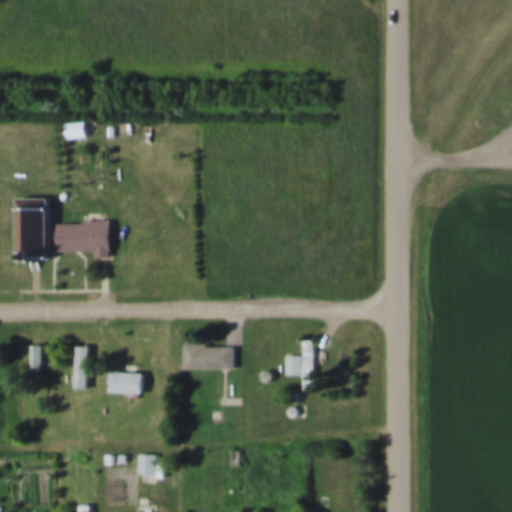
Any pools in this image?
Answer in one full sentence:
No, no pool is visible in the scene.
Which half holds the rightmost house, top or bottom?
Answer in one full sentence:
It is in the bottom half that the rightmost house appears.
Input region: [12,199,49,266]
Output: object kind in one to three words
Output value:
building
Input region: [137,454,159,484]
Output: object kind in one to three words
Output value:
house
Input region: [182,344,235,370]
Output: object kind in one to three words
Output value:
house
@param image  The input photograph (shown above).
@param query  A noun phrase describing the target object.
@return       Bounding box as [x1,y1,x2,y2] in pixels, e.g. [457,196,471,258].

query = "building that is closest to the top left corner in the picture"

[64,121,92,142]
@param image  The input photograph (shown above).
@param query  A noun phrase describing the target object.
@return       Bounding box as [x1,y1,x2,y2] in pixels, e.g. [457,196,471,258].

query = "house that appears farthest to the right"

[284,340,316,391]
